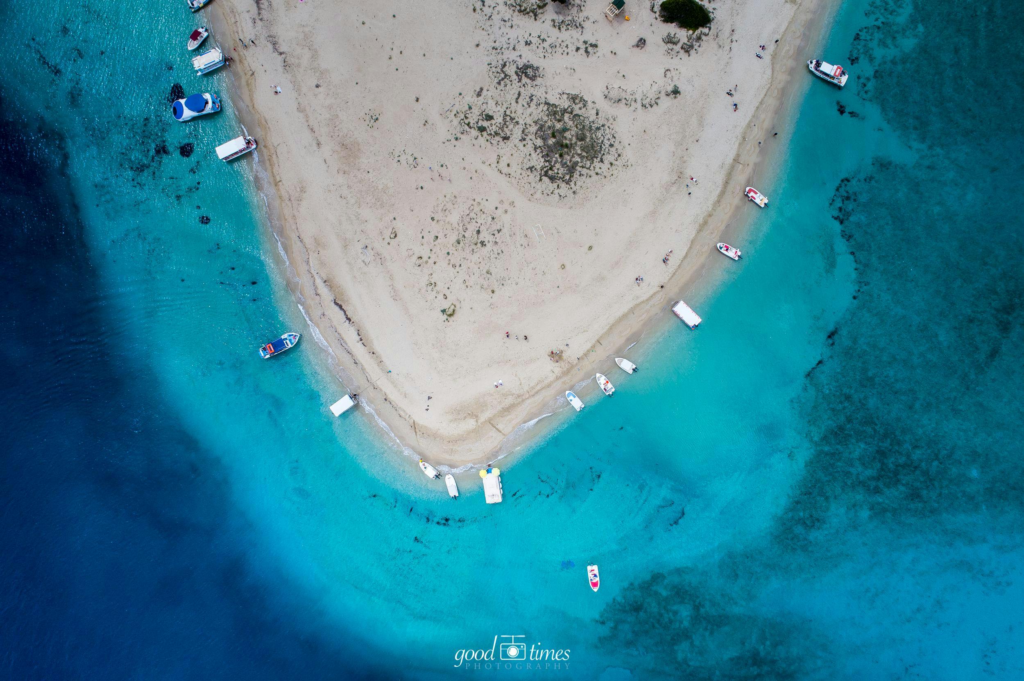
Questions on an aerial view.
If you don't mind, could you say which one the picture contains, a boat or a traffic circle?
boat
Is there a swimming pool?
No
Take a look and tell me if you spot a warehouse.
No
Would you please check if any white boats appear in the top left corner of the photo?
Yes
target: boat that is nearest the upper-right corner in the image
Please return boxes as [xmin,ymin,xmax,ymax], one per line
[808,60,847,86]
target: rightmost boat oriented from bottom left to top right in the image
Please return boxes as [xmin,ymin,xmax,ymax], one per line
[332,393,360,416]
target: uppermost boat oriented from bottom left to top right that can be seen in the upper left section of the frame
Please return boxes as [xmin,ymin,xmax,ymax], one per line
[188,23,213,50]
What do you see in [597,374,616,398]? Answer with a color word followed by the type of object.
white boat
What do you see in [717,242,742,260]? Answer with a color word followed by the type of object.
white boat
